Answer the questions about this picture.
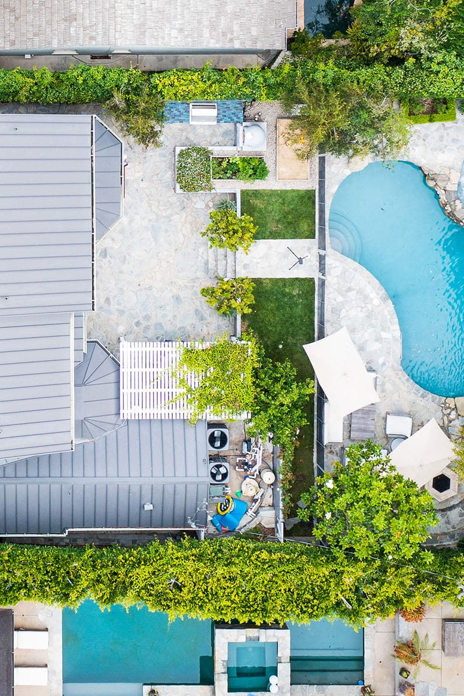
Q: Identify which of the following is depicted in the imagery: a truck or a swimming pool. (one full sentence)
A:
Visible in the photo is a swimming pool.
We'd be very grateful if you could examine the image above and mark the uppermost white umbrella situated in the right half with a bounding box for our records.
[303,327,379,419]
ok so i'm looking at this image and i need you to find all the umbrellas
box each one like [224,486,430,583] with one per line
[303,327,379,419]
[386,417,458,485]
